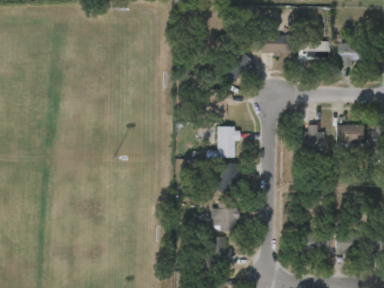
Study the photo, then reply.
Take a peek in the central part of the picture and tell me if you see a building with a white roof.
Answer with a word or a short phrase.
Yes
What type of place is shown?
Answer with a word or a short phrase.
sports ground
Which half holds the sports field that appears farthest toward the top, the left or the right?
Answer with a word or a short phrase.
left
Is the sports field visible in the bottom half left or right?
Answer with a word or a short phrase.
left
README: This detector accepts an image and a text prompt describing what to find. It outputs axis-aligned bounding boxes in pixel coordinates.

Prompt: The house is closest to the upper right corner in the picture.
[338,44,360,68]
